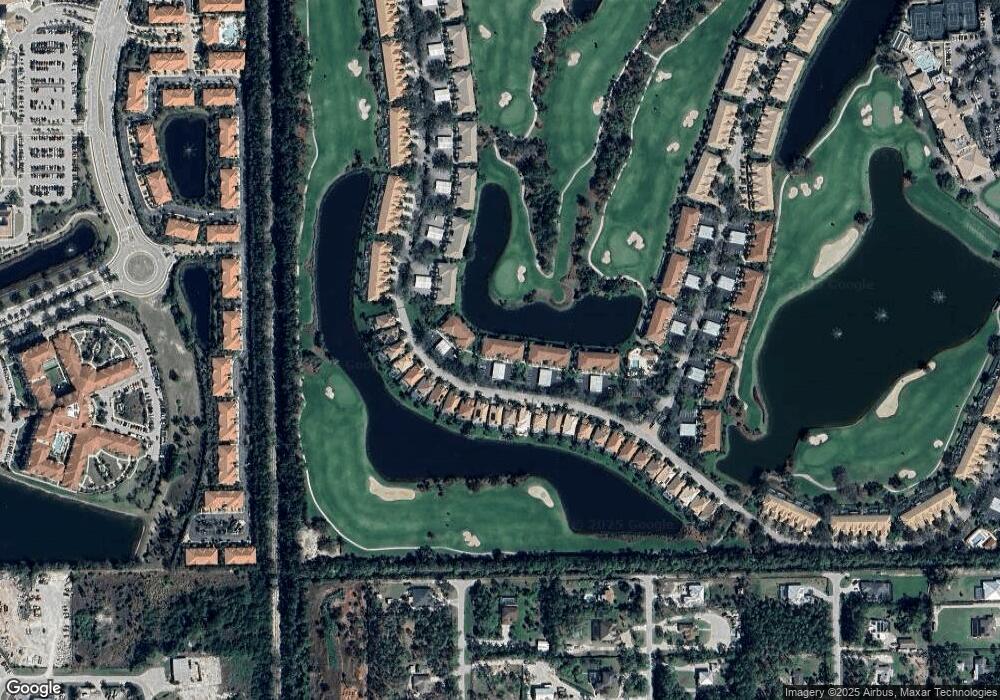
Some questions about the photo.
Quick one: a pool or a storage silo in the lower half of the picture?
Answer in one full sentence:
There is a pool in the lower half of the picture.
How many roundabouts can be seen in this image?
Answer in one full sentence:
The count comes to 1 roundabout.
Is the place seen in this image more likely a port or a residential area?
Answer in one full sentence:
What you see here is a residential area.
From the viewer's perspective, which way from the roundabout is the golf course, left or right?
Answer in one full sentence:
Relative to the roundabout, the golf course lies to the right.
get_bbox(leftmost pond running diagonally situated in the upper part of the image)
[0,220,97,293]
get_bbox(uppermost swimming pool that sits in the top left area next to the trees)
[219,16,244,47]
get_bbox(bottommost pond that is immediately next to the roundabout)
[181,264,209,355]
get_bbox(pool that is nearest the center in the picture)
[629,348,658,376]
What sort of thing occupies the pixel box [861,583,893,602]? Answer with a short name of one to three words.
house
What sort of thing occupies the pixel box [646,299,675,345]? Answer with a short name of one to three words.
building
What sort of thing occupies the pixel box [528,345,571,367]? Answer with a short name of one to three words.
building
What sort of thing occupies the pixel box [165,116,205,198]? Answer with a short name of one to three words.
pond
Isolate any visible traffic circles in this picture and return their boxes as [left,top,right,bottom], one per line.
[108,225,172,299]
